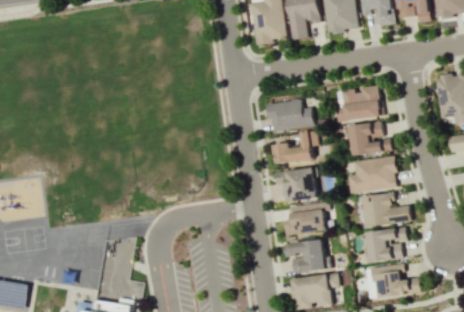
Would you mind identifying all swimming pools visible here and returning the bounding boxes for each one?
[354,236,364,254]
[324,176,334,192]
